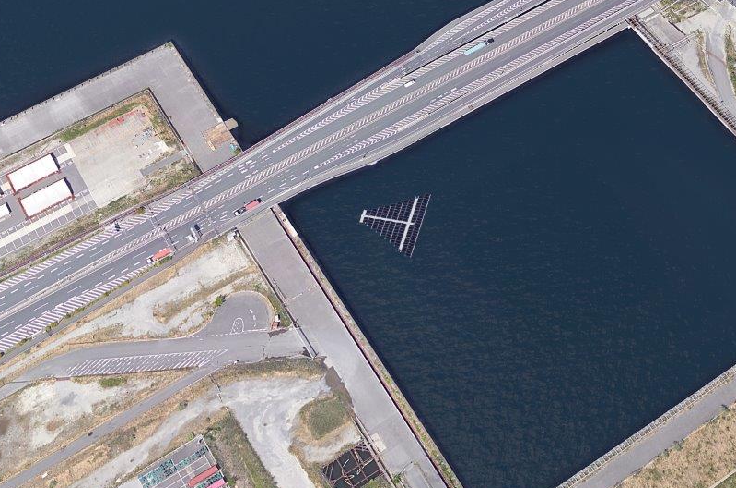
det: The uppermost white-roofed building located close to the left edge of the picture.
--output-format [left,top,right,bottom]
[7,153,63,197]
